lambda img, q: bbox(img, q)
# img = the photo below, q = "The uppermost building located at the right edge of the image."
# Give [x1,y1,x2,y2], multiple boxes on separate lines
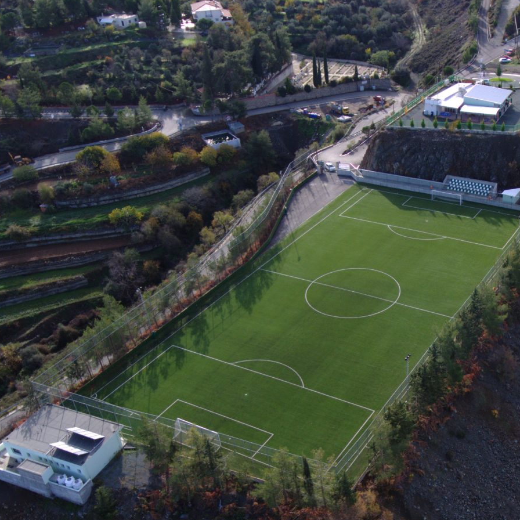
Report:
[423,82,514,127]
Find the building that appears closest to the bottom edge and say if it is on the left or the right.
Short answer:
left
